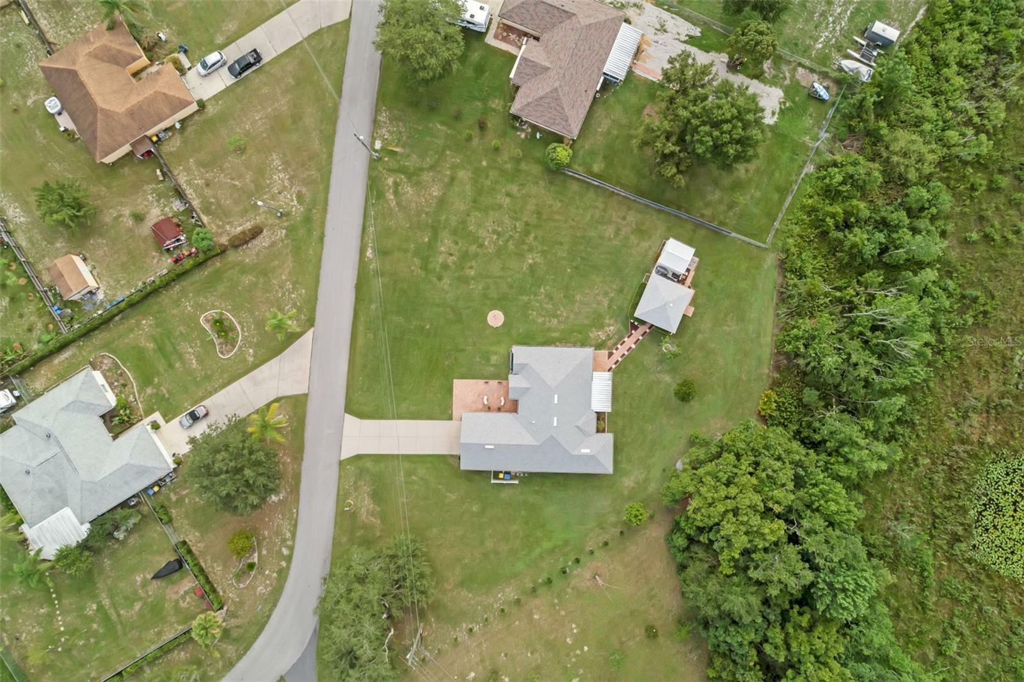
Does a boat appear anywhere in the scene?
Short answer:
Yes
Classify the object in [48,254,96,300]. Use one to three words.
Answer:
shed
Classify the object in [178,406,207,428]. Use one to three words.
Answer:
car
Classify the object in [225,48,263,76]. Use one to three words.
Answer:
vehicle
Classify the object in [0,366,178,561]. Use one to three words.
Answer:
house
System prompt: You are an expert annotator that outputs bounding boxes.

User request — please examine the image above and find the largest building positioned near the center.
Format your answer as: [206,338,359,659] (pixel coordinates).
[460,346,613,474]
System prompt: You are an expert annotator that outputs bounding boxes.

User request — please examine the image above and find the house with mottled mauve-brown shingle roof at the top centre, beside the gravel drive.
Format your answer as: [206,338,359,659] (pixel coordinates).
[498,0,643,141]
